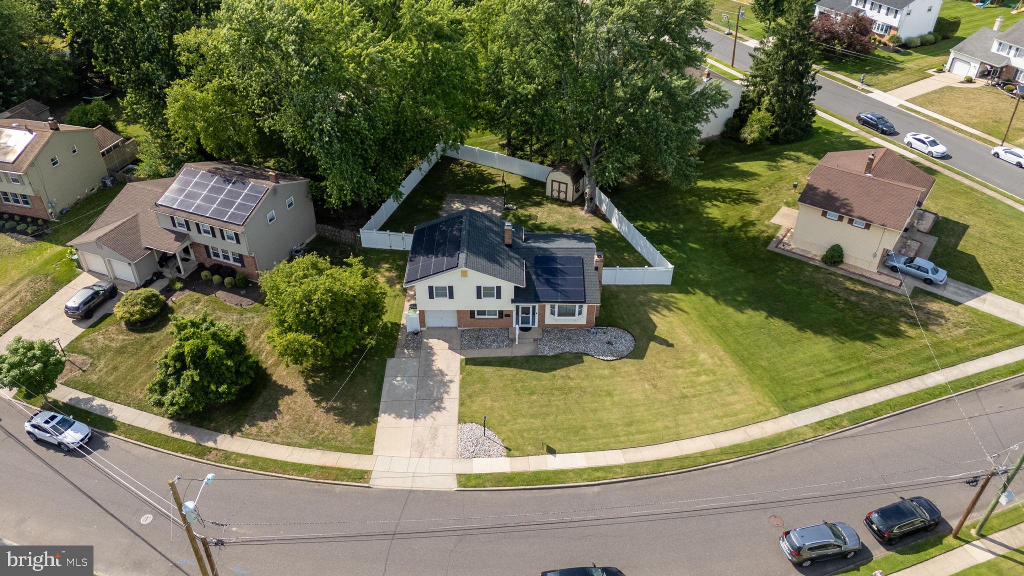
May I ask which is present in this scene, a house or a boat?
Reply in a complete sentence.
It is a house that can be seen here.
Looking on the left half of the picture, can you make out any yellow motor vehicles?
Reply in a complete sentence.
No, the scene shows no yellow motor vehicle on the left half of the picture.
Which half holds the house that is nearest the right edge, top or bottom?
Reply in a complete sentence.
Seen from above, the house that is nearest the right edge lies in the top half of the view.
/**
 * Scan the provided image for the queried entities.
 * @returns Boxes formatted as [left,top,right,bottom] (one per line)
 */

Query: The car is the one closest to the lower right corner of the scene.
[864,493,944,544]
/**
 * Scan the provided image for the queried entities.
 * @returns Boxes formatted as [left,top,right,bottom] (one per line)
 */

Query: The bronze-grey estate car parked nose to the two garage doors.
[62,282,116,318]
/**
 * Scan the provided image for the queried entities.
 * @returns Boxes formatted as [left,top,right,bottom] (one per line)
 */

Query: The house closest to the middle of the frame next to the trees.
[401,208,607,339]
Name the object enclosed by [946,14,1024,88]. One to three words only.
house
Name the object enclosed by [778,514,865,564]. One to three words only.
car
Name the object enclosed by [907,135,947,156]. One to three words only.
car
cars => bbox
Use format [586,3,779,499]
[778,514,865,564]
[859,113,895,133]
[543,561,625,576]
[864,493,944,544]
[62,282,116,318]
[994,148,1024,167]
[20,407,91,449]
[887,254,949,283]
[907,135,947,156]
